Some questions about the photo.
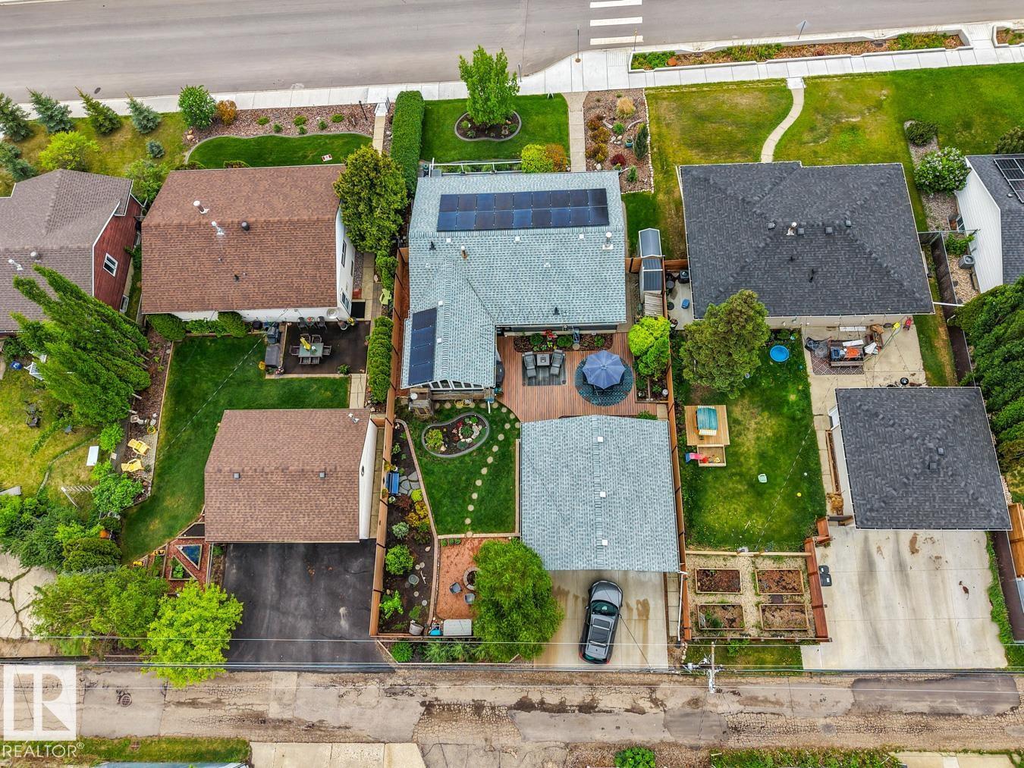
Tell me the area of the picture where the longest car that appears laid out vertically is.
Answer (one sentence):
Look in the bottom portion of the view to spot the longest car that appears laid out vertically.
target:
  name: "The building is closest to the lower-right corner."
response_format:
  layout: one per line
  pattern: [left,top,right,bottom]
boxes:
[822,386,1015,532]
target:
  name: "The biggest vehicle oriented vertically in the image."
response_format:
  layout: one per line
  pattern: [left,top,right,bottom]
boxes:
[575,577,622,672]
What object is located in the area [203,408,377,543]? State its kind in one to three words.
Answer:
building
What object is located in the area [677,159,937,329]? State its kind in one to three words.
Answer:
house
